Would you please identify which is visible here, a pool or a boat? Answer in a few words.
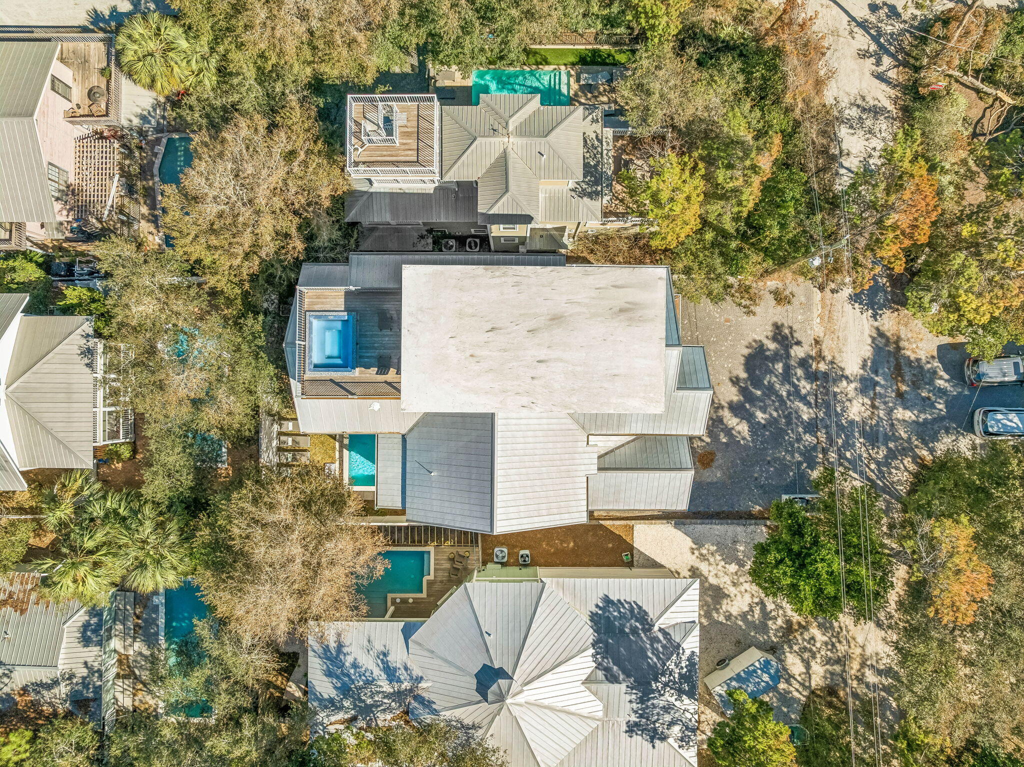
pool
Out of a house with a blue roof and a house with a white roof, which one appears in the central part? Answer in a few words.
house with a white roof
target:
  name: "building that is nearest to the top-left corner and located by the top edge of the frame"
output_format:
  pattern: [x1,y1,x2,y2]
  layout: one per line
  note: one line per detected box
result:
[0,32,163,262]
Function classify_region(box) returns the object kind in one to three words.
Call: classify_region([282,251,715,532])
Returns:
house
